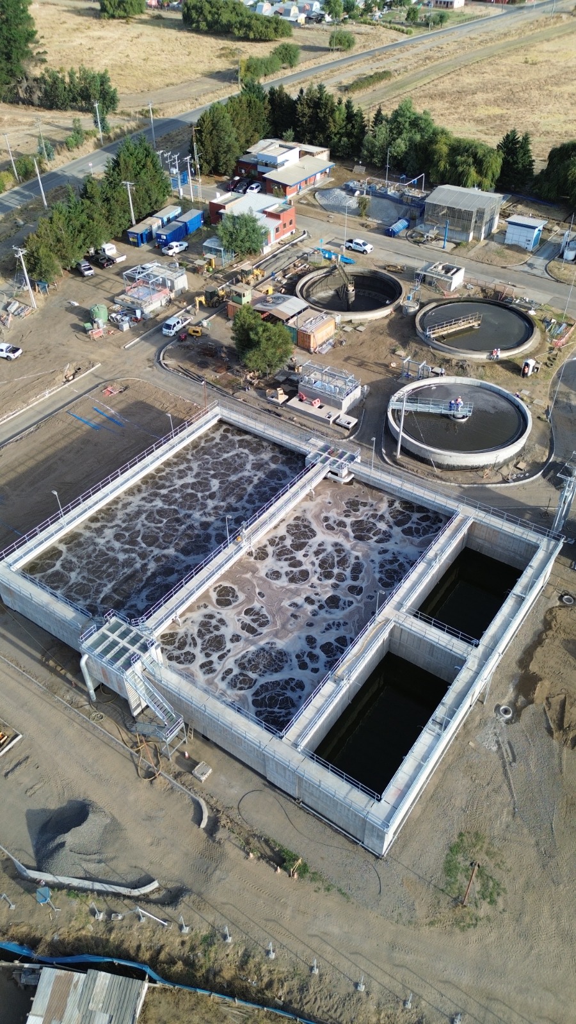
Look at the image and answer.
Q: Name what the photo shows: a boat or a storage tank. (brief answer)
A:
storage tank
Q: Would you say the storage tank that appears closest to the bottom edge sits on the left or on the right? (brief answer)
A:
right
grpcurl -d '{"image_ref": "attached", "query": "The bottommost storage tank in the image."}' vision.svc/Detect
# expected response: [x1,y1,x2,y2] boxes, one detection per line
[386,379,531,472]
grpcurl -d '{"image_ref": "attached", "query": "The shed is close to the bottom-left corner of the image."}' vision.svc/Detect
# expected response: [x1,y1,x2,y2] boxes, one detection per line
[22,968,149,1024]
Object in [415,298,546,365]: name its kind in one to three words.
storage tank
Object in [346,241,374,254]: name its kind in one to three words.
vehicle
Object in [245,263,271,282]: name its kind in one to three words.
work vehicle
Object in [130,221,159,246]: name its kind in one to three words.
building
